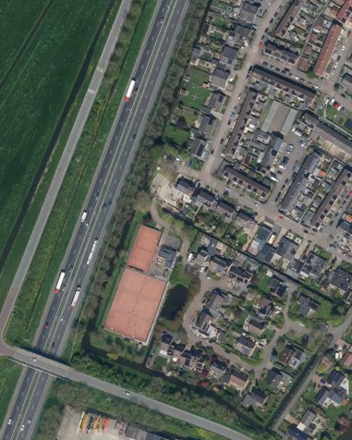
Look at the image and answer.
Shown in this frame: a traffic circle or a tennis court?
tennis court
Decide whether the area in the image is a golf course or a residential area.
residential area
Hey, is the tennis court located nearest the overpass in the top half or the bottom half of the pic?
bottom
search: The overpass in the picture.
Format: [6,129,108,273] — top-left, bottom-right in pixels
[21,349,88,385]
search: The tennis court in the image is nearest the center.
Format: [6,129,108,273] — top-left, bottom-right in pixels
[126,224,162,273]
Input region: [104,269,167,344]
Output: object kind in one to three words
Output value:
tennis court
